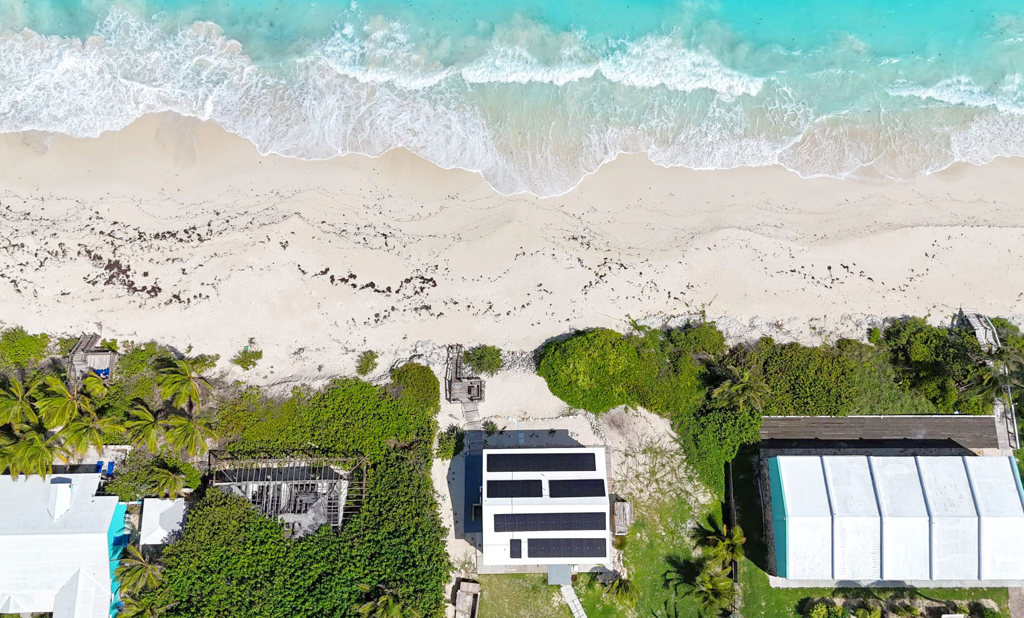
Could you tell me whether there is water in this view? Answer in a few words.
Yes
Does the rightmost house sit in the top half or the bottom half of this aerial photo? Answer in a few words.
bottom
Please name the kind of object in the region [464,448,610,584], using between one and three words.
house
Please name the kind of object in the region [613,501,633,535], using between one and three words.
shed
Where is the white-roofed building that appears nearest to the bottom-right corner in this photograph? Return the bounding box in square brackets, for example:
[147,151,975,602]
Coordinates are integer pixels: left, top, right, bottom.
[760,456,1024,580]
